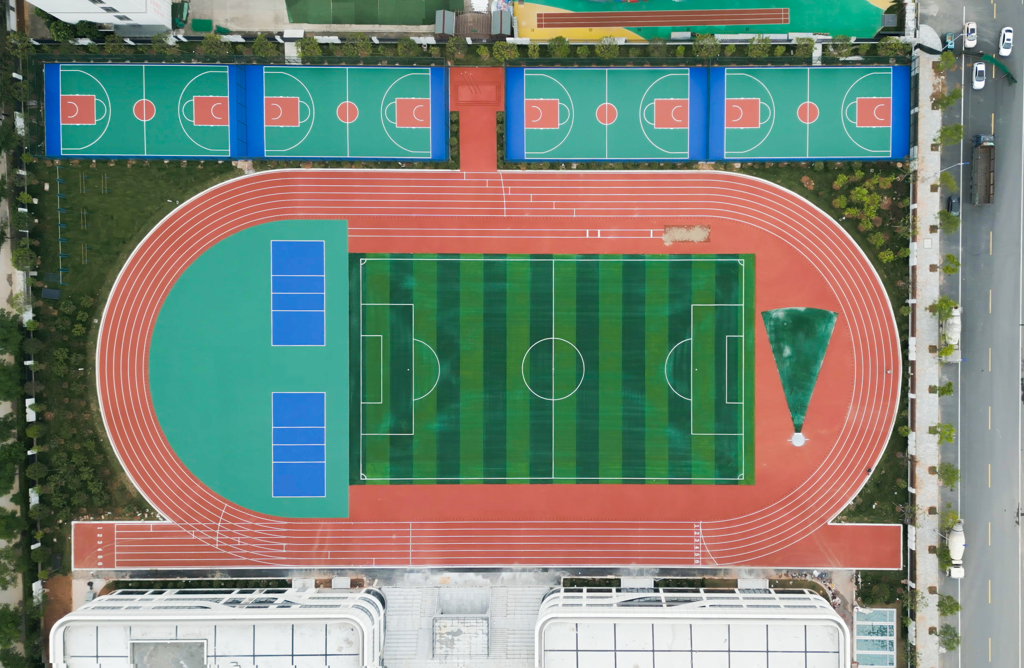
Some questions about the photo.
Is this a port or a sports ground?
sports ground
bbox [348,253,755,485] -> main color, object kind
green sports field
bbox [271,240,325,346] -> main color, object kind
blue sports court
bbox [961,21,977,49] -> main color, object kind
white car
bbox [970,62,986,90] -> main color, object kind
white car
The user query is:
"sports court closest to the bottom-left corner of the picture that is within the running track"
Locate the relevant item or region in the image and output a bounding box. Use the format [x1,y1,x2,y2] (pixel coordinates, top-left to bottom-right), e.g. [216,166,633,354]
[272,392,326,497]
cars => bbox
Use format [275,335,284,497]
[961,21,977,49]
[945,193,961,218]
[970,62,986,90]
[996,27,1013,57]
